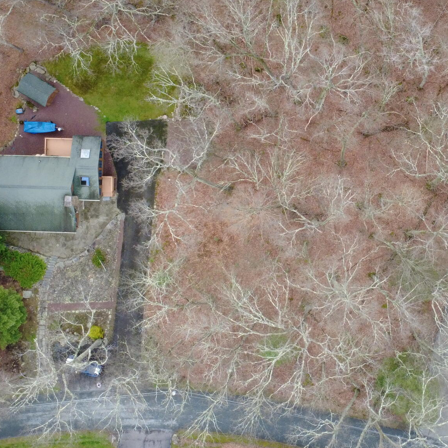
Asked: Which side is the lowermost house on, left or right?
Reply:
left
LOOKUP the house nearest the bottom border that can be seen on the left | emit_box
[0,136,122,234]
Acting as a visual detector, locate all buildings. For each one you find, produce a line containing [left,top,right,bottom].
[0,136,122,234]
[17,73,63,106]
